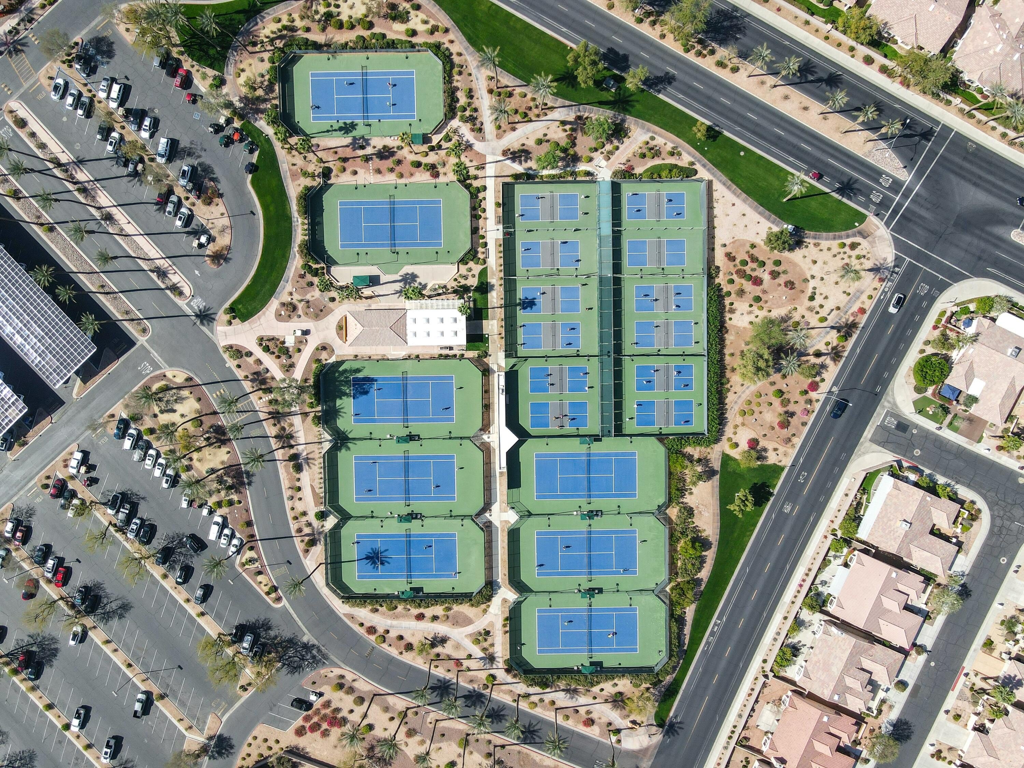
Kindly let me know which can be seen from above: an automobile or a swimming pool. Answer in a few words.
automobile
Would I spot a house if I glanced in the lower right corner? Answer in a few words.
Yes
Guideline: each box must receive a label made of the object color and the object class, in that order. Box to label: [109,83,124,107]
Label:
white car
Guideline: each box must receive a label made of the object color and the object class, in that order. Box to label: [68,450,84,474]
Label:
white vehicle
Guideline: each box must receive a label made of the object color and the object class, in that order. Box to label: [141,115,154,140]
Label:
white vehicle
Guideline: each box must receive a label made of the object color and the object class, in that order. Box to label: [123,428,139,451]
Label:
white car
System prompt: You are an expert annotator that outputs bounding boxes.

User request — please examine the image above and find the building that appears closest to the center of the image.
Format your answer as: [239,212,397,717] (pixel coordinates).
[498,372,519,470]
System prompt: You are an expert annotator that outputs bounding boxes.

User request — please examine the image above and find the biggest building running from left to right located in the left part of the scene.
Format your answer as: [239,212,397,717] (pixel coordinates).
[347,309,466,347]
